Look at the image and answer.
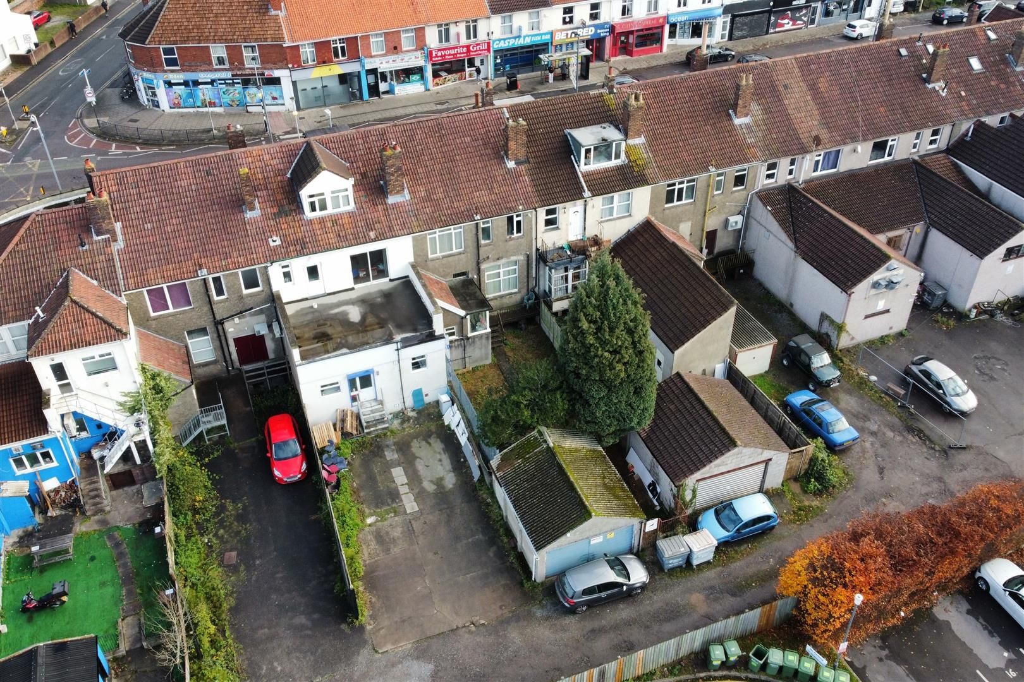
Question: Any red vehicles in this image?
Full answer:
Yes, you can see a red vehicle in this photo.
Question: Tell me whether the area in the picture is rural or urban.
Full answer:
From above, the setting appears urban.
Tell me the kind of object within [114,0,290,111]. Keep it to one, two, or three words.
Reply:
building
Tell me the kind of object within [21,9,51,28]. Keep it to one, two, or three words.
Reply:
car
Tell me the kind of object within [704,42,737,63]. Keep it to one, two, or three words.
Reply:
car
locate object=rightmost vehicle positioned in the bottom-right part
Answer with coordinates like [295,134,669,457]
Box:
[979,560,1024,635]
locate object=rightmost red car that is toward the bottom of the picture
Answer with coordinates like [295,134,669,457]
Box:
[264,418,312,485]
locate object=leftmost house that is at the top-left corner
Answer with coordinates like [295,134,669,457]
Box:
[0,13,37,71]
